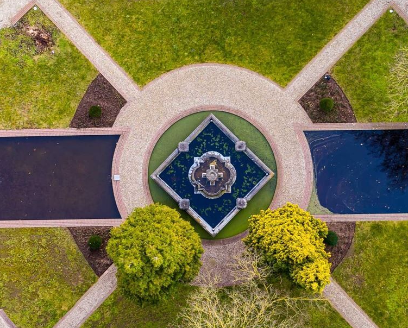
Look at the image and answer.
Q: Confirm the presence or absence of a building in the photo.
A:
No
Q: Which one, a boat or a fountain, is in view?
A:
fountain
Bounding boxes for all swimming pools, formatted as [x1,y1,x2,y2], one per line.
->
[0,128,130,227]
[295,123,408,220]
